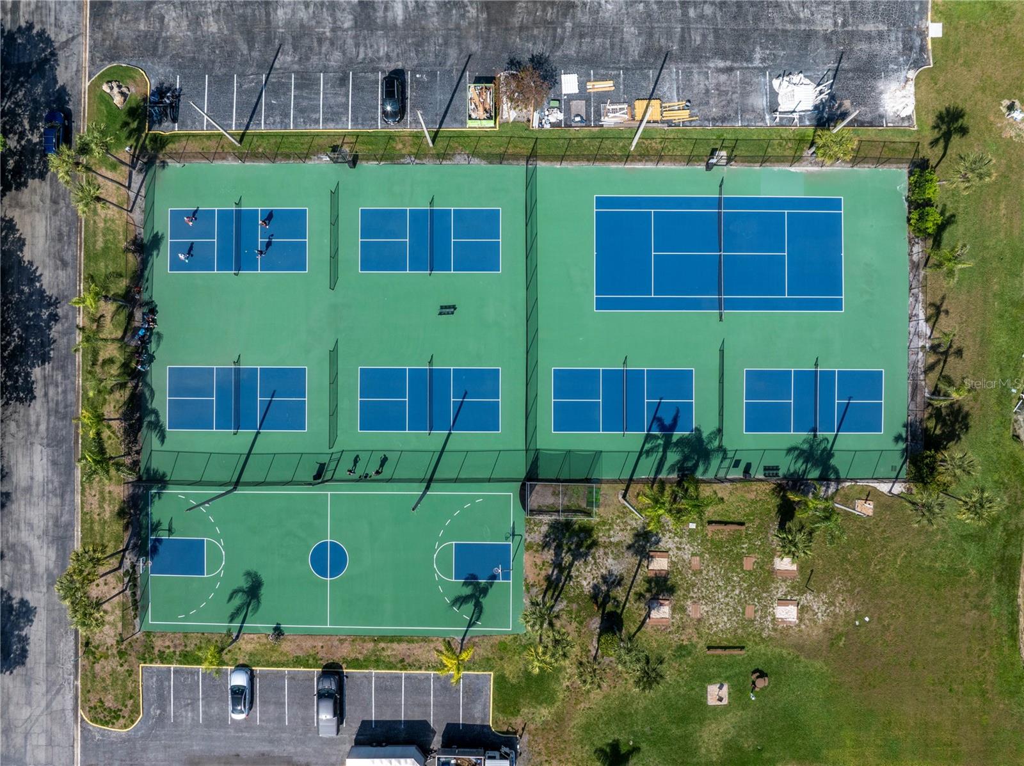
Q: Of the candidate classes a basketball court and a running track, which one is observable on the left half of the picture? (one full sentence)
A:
What appears on the left half of the picture is a basketball court.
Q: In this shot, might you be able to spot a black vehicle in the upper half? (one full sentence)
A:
Yes, a black vehicle is visible in the upper half.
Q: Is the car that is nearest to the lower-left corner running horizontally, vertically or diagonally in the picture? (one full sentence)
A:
The car that is nearest to the lower-left corner is laid out vertically.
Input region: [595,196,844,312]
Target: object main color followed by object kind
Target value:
blue tennis court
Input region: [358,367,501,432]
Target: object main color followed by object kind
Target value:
blue sports court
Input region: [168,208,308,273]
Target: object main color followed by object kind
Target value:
blue sports court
